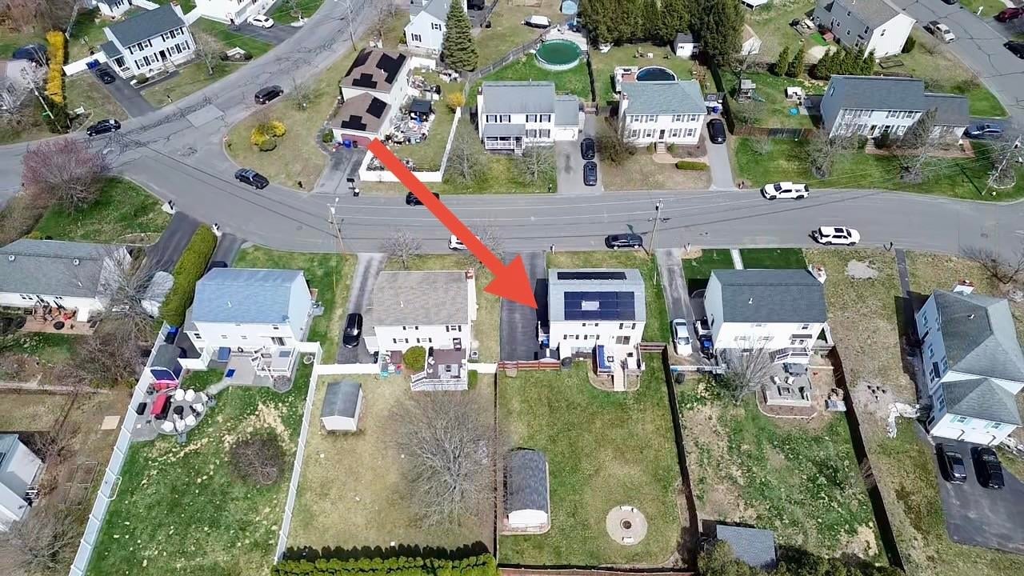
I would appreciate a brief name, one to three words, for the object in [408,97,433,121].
gazebo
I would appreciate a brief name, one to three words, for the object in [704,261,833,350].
house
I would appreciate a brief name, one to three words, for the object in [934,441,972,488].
car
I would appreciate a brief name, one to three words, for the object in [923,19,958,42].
truck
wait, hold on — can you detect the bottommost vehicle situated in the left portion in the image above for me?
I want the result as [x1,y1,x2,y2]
[340,309,365,349]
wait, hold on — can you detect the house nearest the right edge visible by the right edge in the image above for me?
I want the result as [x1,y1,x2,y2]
[912,288,1024,438]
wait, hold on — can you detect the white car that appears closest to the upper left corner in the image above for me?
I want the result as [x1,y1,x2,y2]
[246,15,275,30]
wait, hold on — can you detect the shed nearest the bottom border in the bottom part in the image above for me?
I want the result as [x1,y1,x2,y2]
[717,527,783,576]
